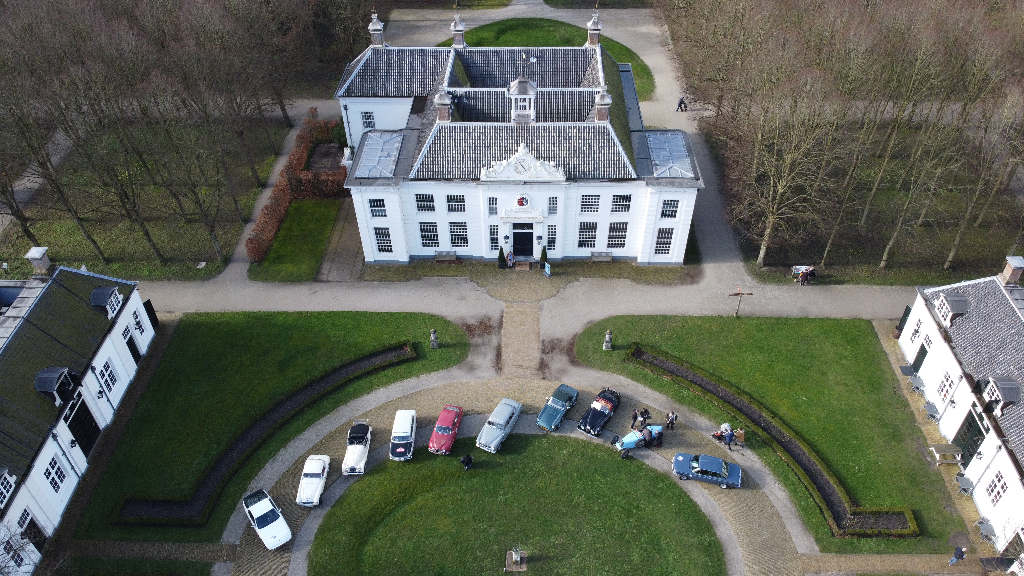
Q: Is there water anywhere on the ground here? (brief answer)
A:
No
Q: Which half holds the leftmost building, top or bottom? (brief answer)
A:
bottom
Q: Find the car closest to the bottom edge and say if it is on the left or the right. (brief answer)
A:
left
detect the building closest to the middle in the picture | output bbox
[334,5,704,266]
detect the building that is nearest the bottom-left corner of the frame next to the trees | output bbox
[0,247,158,576]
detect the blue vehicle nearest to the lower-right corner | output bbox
[670,454,741,489]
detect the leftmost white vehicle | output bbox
[242,489,291,552]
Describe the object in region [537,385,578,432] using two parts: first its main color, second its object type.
blue car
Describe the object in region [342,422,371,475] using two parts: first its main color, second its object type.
white car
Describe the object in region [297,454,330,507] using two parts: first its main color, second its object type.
white car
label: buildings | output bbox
[334,5,704,266]
[0,247,158,576]
[895,252,1024,576]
